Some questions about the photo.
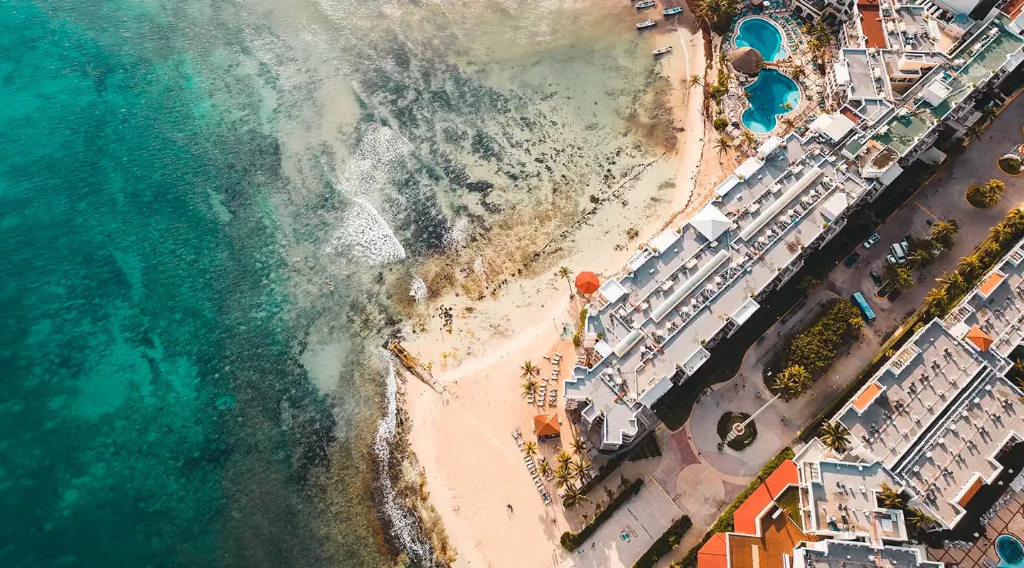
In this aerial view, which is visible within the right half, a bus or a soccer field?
bus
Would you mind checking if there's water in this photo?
Yes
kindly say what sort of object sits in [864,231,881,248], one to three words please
vehicle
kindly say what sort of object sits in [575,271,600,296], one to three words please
gazebo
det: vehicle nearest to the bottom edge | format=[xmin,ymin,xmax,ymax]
[851,286,883,323]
